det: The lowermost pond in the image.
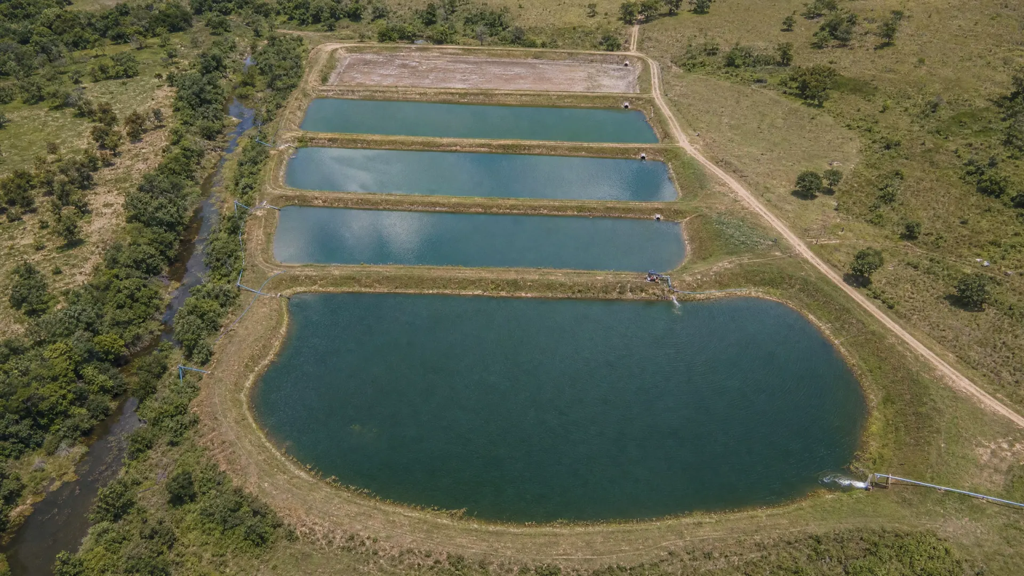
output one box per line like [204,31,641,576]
[254,293,867,524]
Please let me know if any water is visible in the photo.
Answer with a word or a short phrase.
Yes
